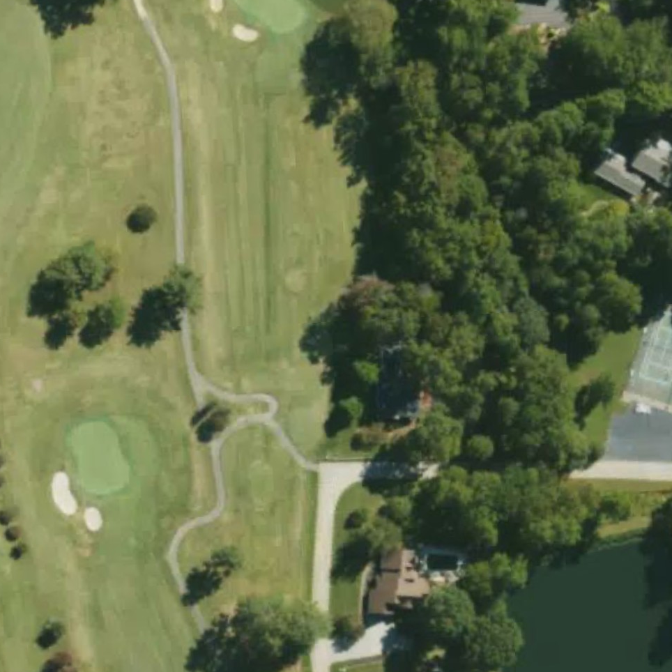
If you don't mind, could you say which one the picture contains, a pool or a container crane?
pool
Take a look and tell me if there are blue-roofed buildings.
No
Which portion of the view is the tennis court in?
right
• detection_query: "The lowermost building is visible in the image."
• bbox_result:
[369,549,432,614]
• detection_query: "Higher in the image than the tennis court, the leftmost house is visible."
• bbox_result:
[595,155,646,199]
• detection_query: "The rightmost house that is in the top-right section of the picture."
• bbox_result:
[630,136,672,191]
